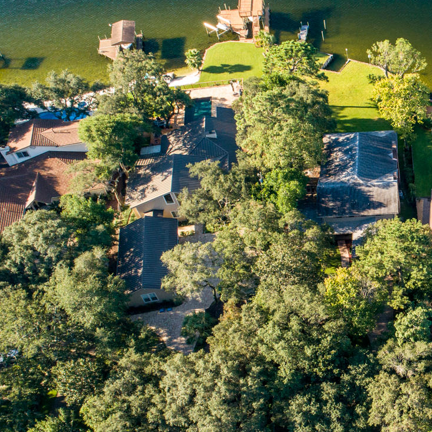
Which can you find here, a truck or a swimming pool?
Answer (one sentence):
Looking from above, you can make out a swimming pool.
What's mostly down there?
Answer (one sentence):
The bulk of the photo consists of trees.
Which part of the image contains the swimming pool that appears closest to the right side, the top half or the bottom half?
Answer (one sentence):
The top half of the photo is where the swimming pool that appears closest to the right side is.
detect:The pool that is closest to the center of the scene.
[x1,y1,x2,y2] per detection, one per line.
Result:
[183,96,213,123]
